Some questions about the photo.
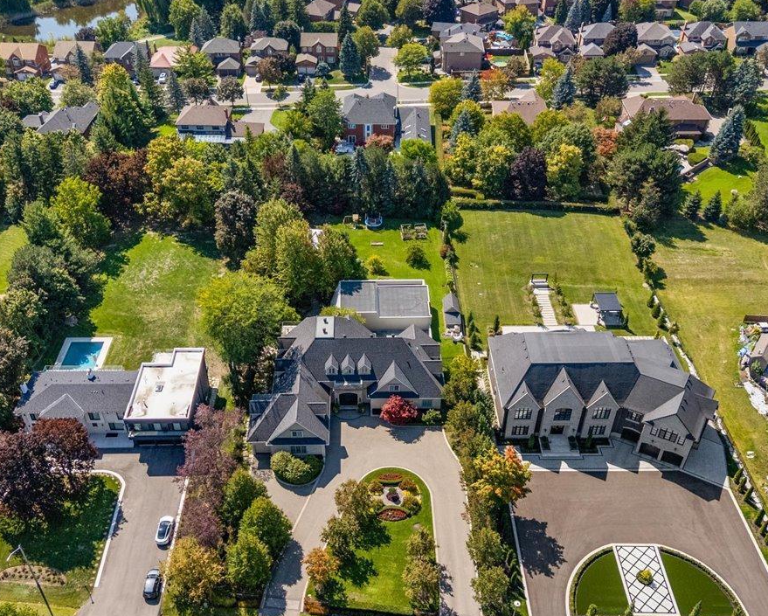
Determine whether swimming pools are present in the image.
Yes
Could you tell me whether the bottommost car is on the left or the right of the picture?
left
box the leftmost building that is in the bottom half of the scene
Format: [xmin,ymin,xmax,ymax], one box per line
[13,344,209,445]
